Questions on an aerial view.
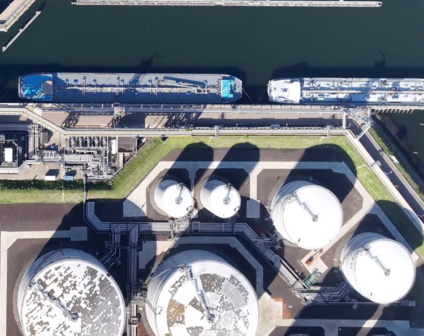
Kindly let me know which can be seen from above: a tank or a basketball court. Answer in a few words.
tank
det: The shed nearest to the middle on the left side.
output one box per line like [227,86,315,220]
[116,136,137,153]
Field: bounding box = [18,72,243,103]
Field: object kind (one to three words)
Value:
ship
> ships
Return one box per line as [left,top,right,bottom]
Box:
[18,72,243,103]
[266,77,424,105]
